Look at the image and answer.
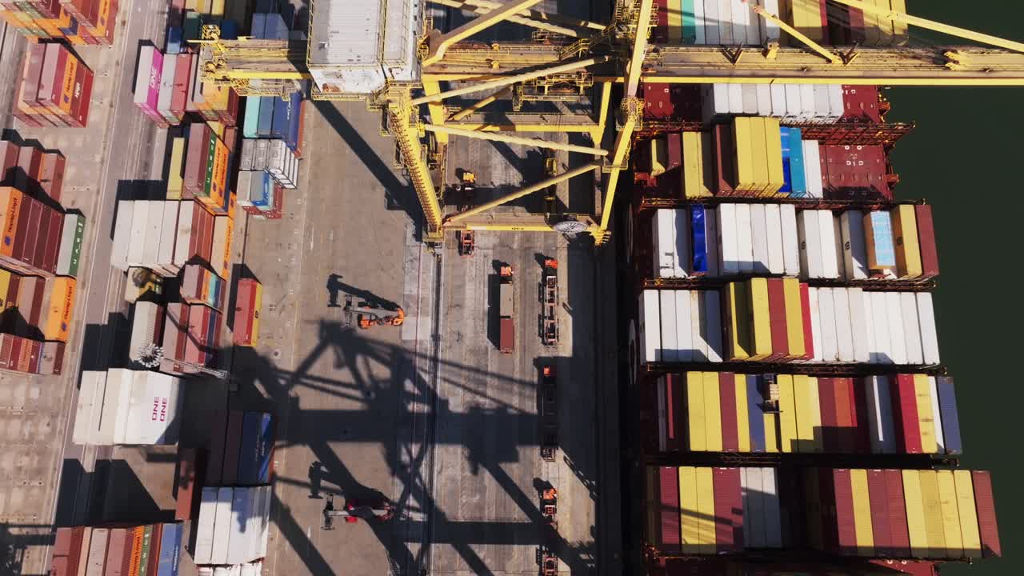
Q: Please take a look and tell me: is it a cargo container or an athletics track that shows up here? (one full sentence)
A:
This aerial view contains a cargo container.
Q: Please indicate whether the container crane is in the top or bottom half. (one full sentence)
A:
Seen from above, the container crane lies in the top half of the view.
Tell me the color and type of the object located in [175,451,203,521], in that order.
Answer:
red shipping container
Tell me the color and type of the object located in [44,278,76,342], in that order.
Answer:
orange shipping container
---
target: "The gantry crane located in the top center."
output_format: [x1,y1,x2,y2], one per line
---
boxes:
[174,0,1024,263]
